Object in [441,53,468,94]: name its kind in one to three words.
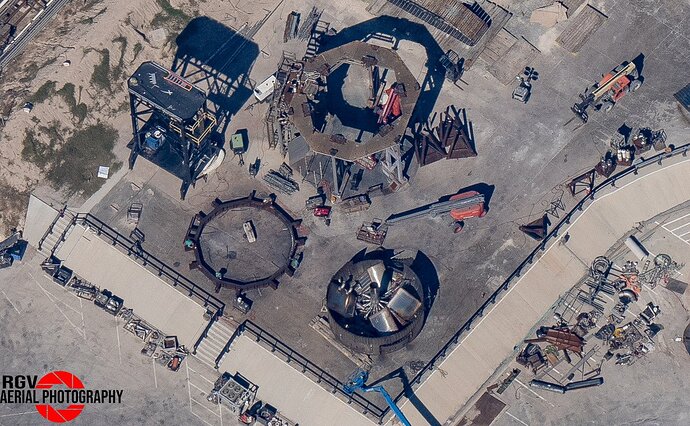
work vehicle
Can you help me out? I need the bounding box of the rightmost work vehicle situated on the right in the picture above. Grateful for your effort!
[571,61,644,125]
